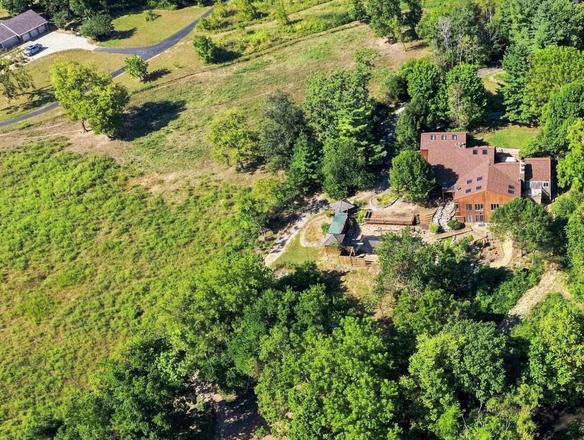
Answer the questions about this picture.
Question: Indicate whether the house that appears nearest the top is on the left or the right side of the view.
left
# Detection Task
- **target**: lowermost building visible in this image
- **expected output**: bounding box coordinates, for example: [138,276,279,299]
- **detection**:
[318,236,345,261]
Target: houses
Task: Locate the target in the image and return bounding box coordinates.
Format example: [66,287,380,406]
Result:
[0,11,53,53]
[419,132,552,225]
